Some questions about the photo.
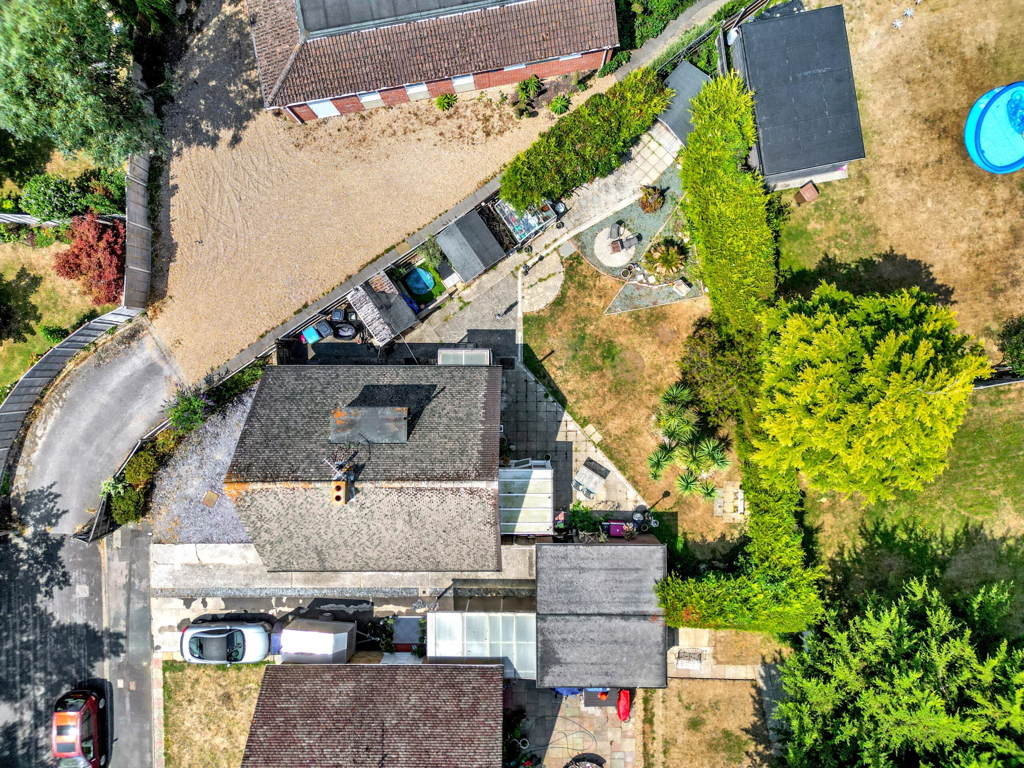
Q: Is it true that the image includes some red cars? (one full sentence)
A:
No, this view has no red car in it.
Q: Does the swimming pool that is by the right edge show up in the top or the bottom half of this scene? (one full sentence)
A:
Seen from above, the swimming pool that is by the right edge lies in the top half of the view.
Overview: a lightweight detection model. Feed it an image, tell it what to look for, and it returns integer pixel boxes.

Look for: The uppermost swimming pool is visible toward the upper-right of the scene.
[965,80,1024,173]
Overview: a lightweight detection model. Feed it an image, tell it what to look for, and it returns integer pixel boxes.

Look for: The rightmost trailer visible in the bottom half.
[282,609,379,662]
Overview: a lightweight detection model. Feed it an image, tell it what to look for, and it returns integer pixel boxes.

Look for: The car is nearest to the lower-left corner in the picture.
[182,617,275,671]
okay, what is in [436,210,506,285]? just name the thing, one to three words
shed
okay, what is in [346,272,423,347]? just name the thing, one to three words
shed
